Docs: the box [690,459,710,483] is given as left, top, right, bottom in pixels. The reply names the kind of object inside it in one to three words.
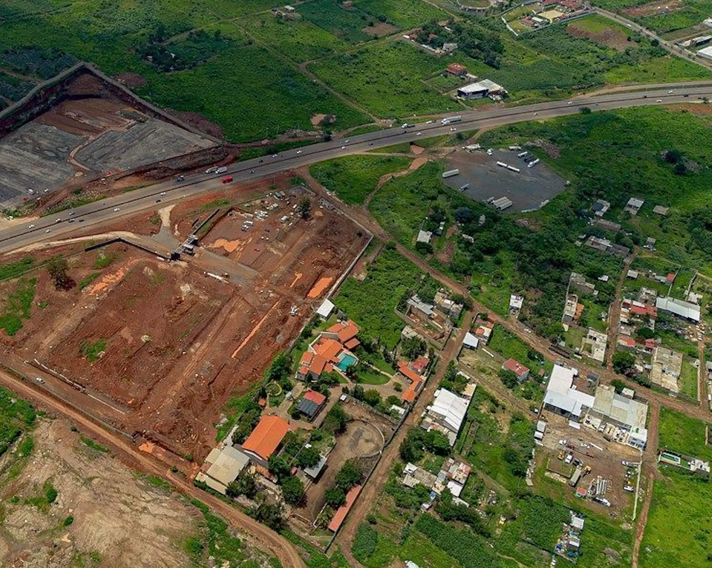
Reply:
house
